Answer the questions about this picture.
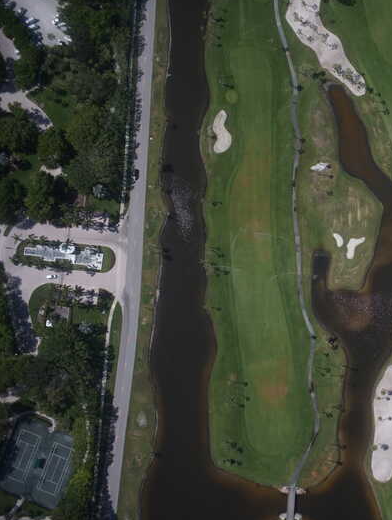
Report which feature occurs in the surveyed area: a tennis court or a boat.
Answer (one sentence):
Visible in the photo is a tennis court.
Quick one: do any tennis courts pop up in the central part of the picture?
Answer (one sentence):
No, no tennis court appears in the central part of the picture.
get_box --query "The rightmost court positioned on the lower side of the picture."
[30,432,80,506]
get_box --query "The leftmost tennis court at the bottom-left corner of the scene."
[0,420,49,493]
